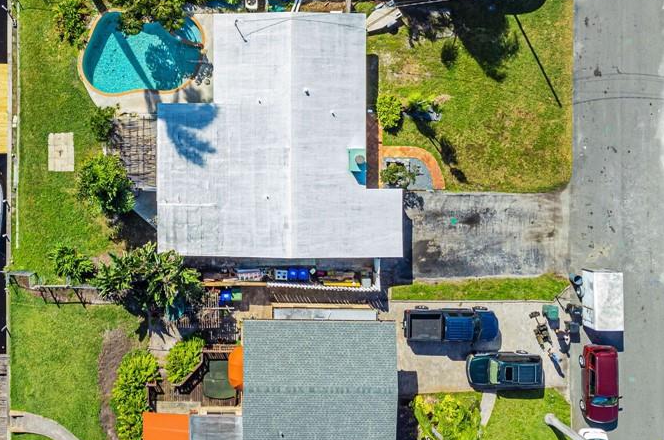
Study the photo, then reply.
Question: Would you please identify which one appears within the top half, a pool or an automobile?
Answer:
pool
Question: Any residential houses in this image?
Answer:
Yes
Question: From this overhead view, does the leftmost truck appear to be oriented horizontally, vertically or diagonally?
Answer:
horizontally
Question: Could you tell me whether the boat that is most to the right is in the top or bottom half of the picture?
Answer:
top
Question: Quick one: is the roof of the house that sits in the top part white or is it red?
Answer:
white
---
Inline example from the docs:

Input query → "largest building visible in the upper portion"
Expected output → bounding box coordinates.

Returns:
[157,12,403,259]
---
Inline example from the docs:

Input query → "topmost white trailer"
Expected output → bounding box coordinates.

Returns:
[575,249,624,331]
